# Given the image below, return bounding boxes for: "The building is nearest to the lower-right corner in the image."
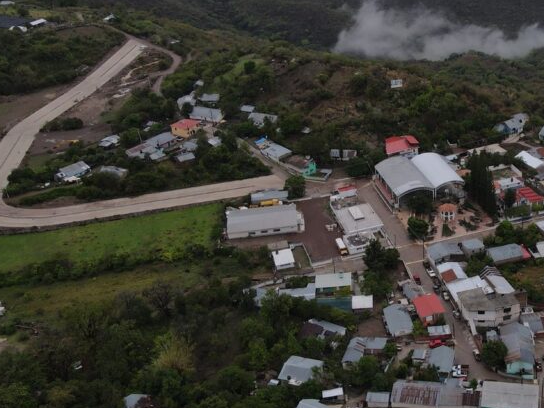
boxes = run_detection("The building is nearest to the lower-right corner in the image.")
[479,380,540,408]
